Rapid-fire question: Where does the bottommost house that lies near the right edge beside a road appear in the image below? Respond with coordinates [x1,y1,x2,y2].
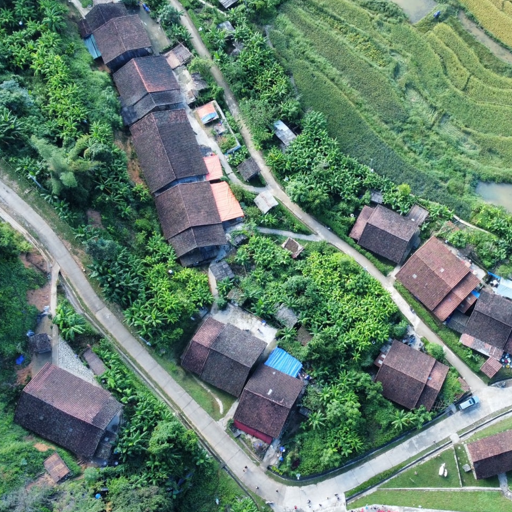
[466,430,512,481]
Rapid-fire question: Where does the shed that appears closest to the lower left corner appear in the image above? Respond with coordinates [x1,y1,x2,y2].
[45,454,70,482]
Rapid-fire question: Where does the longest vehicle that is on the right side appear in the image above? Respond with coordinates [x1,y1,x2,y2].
[457,394,480,413]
